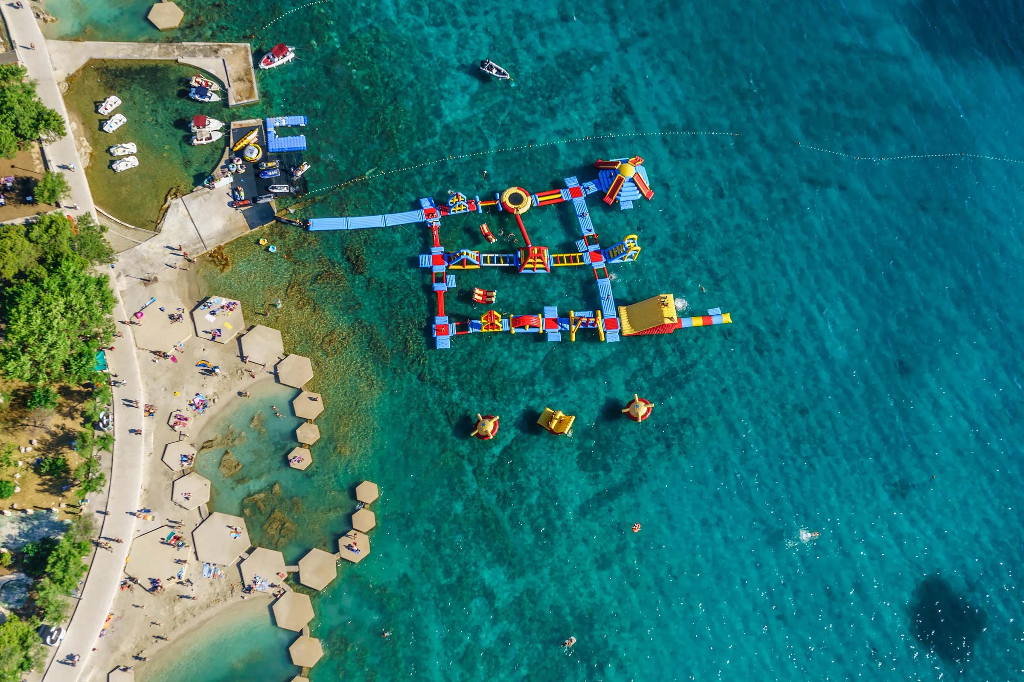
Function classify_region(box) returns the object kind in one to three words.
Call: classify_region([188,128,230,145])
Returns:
boat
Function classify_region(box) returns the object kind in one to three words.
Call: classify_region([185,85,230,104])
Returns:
boat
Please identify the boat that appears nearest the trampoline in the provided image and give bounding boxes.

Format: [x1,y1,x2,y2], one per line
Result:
[476,57,512,79]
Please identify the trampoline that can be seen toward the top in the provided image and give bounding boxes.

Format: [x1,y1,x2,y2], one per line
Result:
[501,186,532,215]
